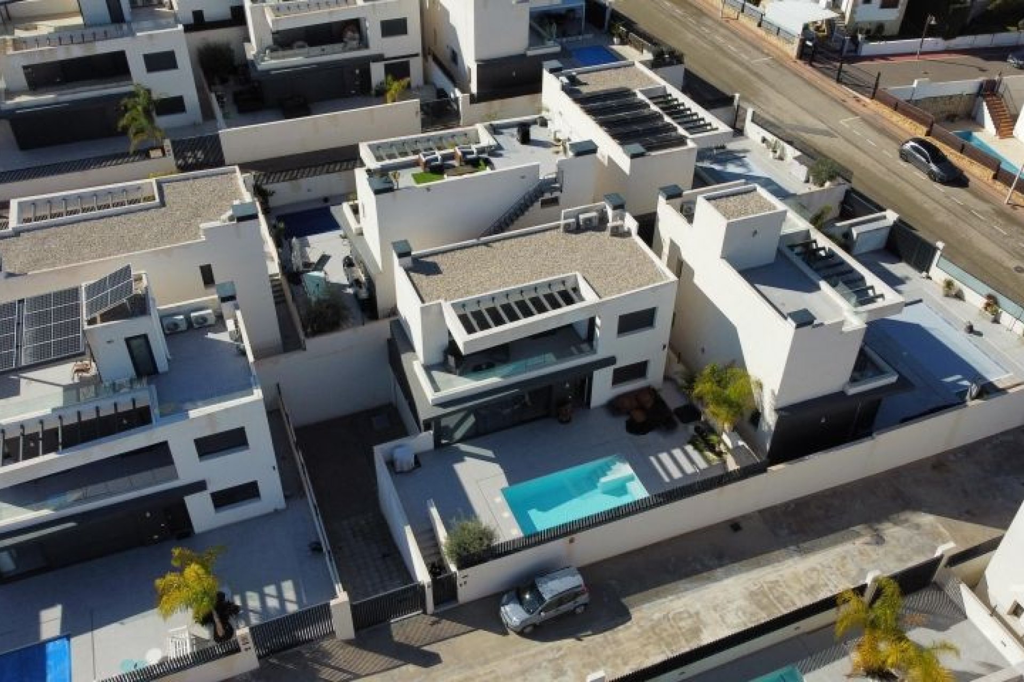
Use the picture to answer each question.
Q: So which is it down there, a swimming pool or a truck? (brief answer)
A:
swimming pool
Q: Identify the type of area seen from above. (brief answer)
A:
residential area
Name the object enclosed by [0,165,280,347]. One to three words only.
house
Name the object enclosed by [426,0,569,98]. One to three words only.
house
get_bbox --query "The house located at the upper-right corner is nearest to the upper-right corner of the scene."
[992,72,1024,120]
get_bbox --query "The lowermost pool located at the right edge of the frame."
[856,294,1023,410]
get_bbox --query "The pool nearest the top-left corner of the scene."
[271,202,341,240]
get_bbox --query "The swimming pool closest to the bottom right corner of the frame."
[713,652,811,682]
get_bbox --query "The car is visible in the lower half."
[498,563,593,635]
